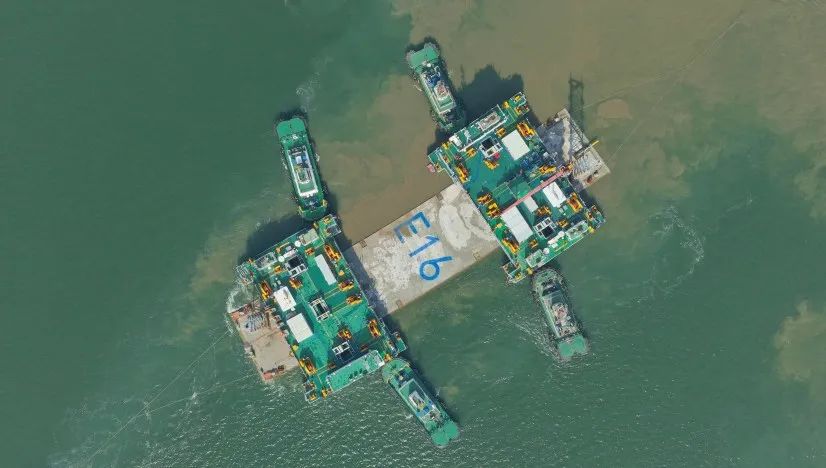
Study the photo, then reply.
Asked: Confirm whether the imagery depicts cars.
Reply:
No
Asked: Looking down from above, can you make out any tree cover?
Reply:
No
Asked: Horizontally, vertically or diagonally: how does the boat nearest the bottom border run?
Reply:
diagonally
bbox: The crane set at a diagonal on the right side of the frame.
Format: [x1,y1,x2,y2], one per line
[491,158,576,215]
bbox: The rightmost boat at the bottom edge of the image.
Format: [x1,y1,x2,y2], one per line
[386,355,459,447]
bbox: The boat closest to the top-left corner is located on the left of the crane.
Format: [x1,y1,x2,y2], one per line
[277,115,327,222]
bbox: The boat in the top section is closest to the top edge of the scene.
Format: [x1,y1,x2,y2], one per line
[408,42,467,135]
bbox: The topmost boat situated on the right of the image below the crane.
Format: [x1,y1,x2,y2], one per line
[532,265,587,362]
